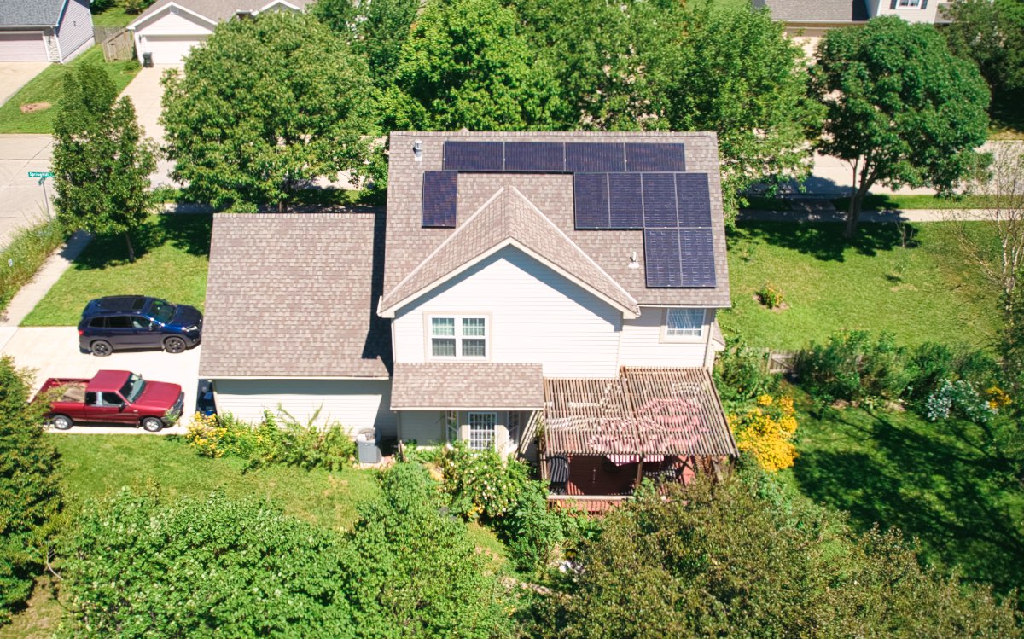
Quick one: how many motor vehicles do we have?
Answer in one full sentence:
My tally gives 2 motor vehicles in this view.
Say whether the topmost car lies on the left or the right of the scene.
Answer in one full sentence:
The topmost car appears in the left half of the scene.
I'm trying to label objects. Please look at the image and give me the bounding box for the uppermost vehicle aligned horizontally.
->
[78,294,205,354]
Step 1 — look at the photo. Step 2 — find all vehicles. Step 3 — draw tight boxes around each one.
[78,294,205,354]
[27,366,190,428]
